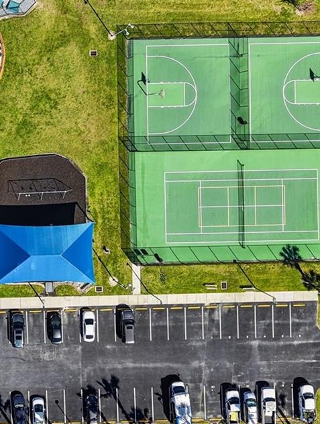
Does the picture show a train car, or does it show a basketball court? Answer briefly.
basketball court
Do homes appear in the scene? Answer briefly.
No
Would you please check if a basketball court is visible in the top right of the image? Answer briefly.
Yes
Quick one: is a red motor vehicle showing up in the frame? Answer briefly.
No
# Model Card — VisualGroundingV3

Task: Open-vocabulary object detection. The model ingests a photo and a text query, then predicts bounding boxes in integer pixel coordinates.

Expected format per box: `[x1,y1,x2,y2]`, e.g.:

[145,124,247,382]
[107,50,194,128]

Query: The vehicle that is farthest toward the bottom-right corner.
[297,383,316,424]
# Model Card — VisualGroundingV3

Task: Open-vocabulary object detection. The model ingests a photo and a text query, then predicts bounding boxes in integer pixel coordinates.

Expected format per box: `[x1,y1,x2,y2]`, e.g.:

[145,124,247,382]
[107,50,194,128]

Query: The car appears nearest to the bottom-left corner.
[12,394,26,424]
